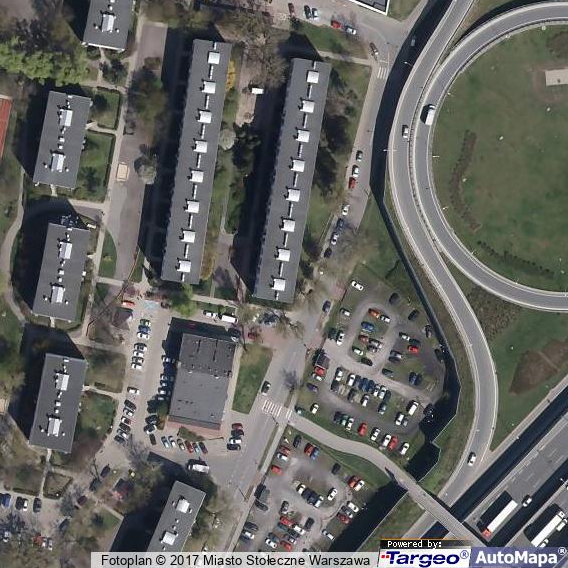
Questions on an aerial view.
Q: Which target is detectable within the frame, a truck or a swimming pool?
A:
truck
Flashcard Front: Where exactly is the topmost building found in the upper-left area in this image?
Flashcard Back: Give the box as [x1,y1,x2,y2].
[84,0,136,54]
